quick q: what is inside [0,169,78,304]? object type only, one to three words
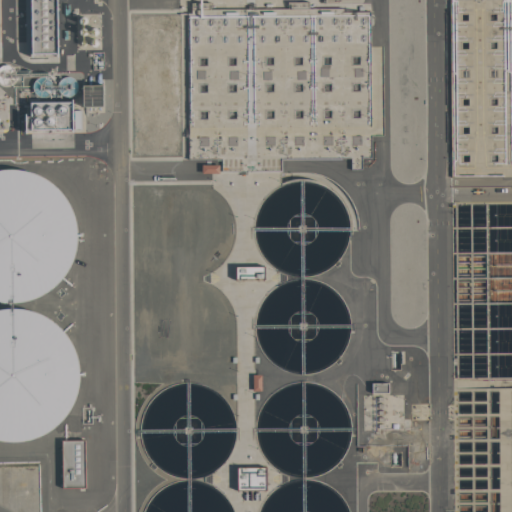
storage tank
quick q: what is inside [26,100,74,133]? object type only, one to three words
house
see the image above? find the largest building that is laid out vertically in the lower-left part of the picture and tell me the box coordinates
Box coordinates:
[63,424,86,490]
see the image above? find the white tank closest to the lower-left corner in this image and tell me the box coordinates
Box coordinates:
[0,308,79,442]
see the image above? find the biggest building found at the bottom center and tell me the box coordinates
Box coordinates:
[238,468,267,492]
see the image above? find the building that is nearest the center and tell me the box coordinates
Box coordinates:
[238,268,266,282]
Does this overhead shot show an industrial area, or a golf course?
industrial area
